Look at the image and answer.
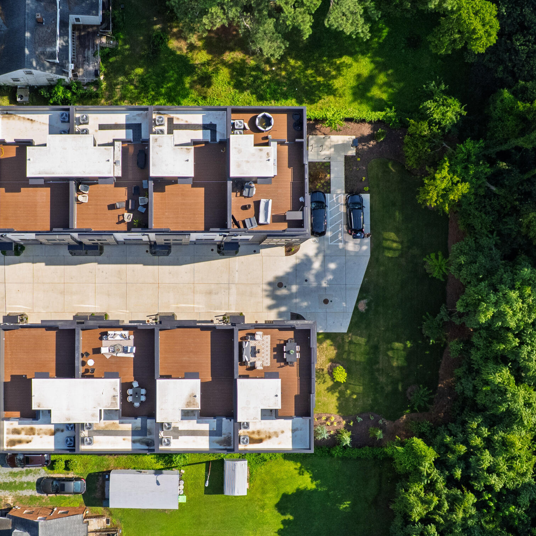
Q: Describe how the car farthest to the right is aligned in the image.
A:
up and down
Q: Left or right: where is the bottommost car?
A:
left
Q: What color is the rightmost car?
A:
black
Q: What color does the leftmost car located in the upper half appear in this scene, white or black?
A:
black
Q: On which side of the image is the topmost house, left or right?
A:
left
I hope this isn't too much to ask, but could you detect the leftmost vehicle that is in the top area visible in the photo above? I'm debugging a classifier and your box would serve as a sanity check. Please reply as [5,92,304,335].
[309,191,330,236]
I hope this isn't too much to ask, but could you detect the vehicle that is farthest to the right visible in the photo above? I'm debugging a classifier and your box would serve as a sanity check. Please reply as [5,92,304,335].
[344,191,366,238]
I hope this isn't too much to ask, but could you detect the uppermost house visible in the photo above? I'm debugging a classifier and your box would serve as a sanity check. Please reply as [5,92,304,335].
[0,0,113,84]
